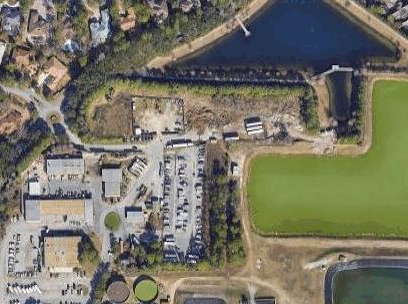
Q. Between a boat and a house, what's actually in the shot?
house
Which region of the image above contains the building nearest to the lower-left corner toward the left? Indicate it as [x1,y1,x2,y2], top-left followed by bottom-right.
[43,236,81,275]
